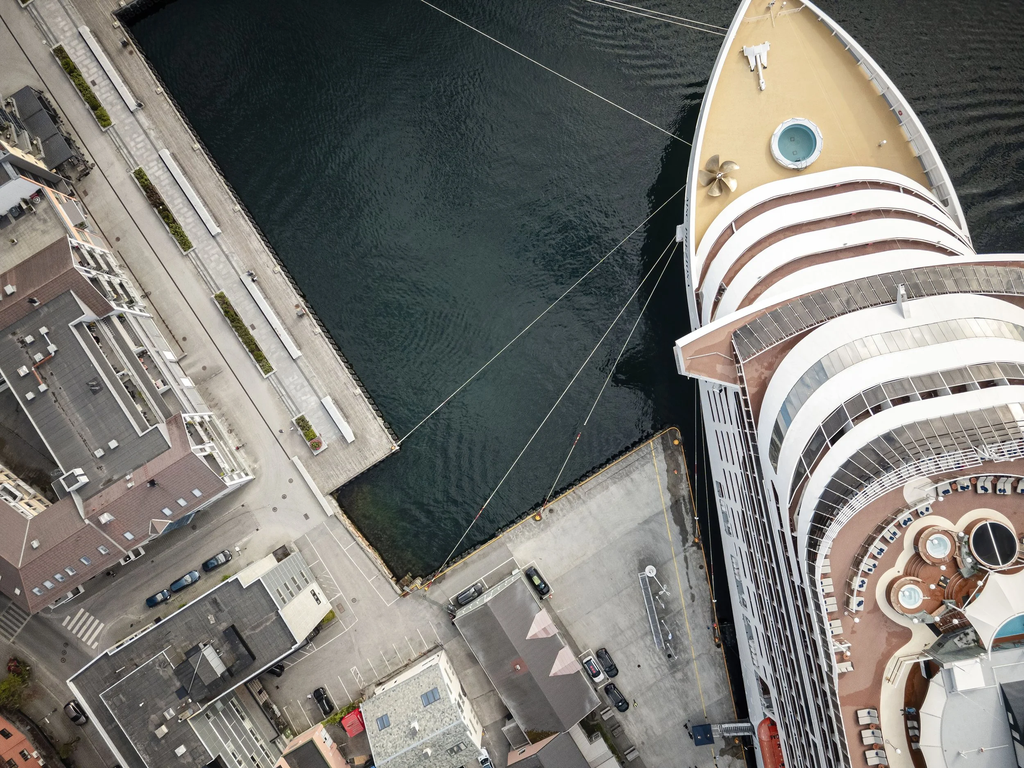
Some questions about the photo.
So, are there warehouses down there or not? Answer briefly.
Yes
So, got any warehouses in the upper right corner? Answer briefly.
No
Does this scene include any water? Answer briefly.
Yes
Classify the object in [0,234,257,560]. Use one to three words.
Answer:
building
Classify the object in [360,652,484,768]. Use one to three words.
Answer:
house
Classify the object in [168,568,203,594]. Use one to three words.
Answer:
car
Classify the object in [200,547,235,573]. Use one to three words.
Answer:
car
